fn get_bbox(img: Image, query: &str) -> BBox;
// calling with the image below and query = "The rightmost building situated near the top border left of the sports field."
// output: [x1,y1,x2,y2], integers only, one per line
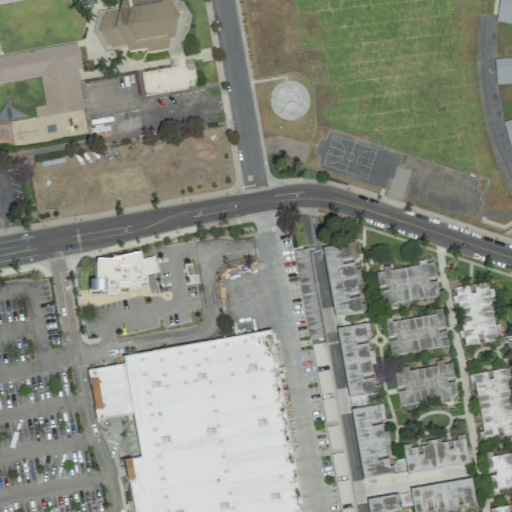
[95,0,192,54]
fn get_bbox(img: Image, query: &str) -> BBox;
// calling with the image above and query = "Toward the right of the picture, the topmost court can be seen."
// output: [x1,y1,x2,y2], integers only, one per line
[317,129,400,187]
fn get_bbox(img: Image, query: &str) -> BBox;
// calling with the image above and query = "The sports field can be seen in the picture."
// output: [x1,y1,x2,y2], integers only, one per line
[298,0,503,178]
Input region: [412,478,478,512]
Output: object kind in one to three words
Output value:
building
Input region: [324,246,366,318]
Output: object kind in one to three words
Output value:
building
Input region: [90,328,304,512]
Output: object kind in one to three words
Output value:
warehouse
